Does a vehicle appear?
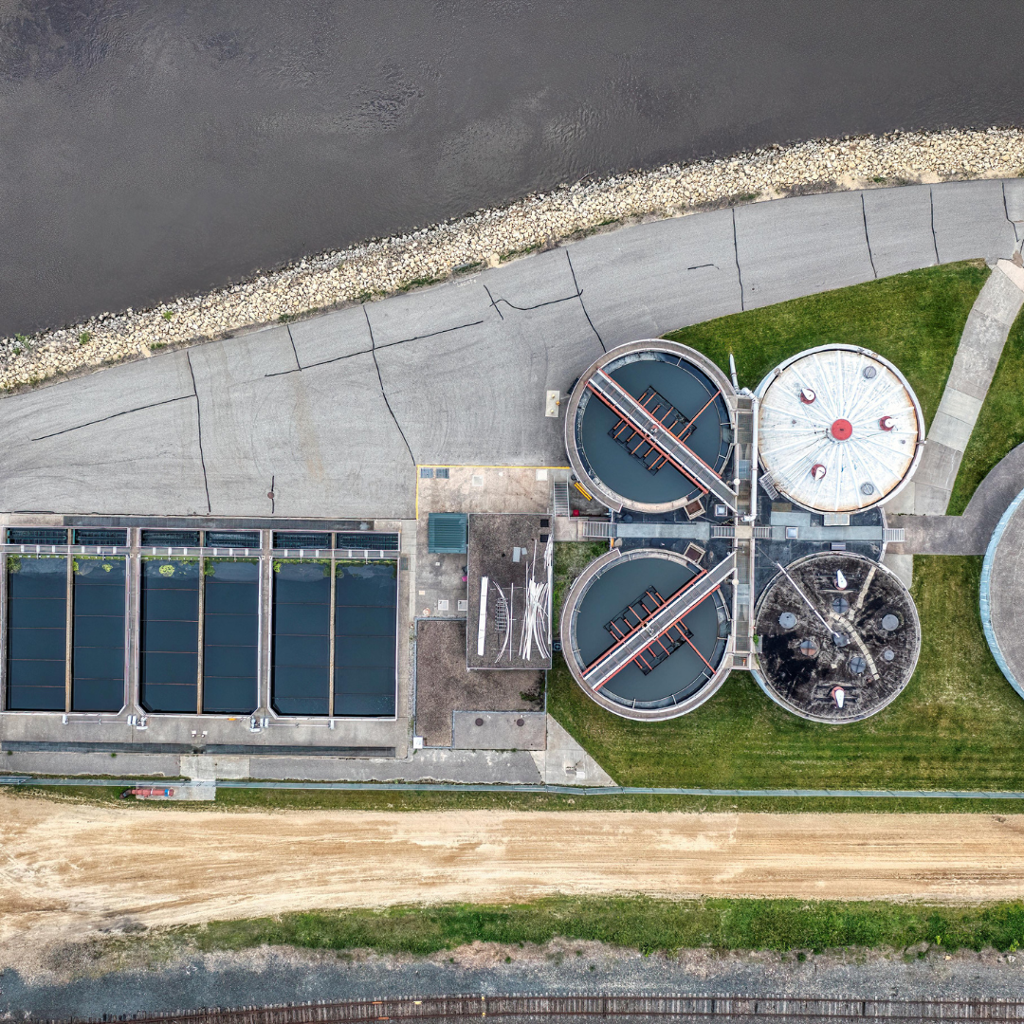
No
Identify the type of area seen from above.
industrial area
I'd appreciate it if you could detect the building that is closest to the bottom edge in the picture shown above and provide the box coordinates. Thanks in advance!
[414,619,548,751]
